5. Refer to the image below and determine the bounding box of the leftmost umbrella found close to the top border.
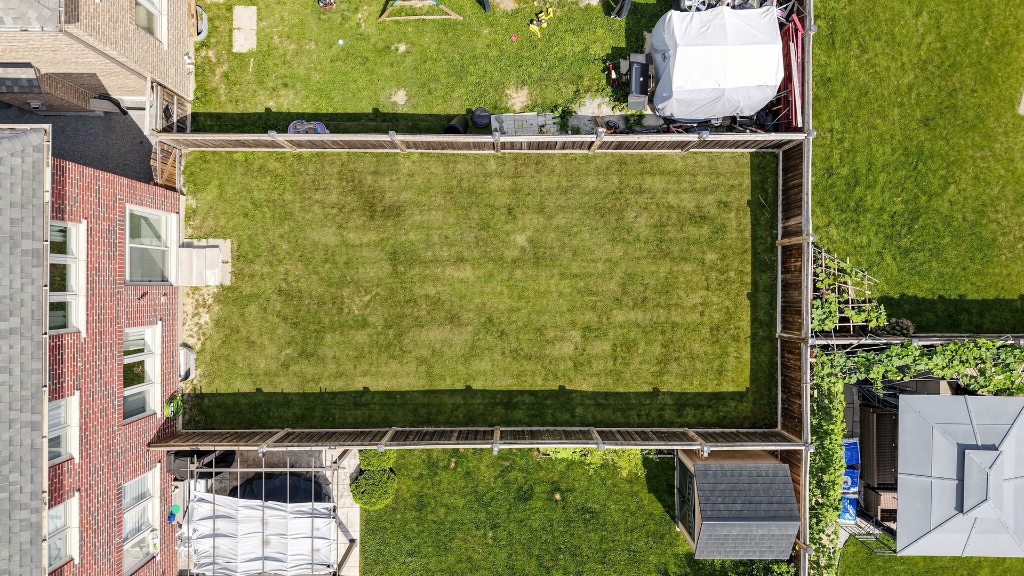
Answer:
[609,0,629,24]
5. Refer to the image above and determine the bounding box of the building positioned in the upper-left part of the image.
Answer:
[0,0,194,119]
